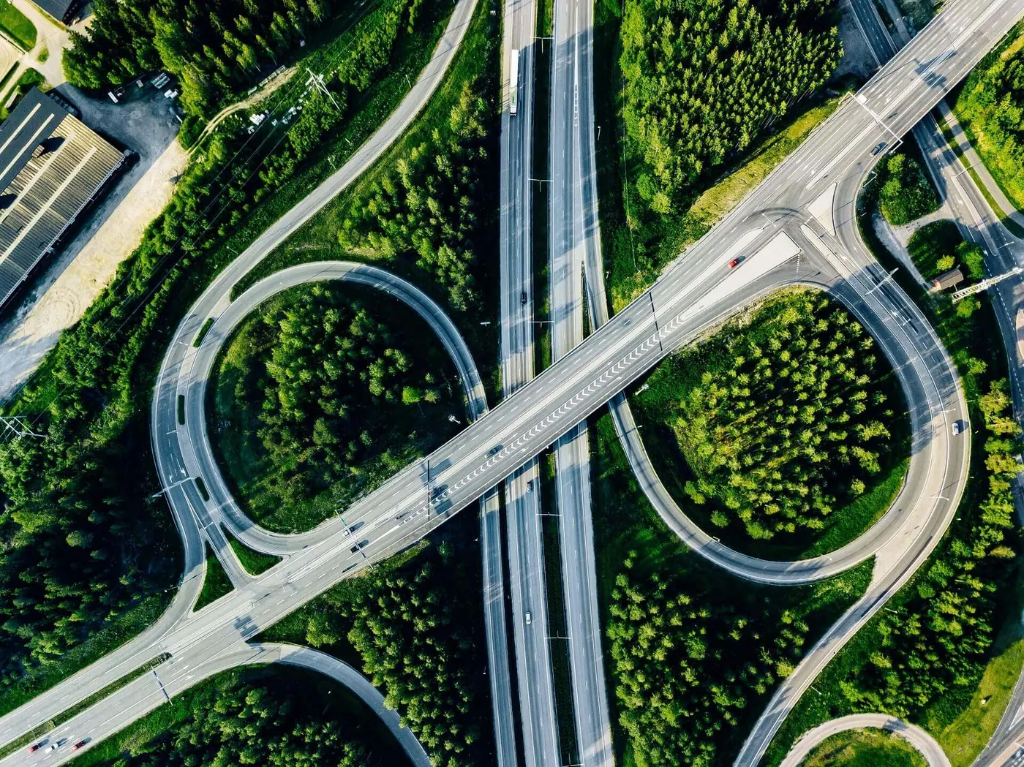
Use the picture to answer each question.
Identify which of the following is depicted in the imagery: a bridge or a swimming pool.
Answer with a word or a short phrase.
bridge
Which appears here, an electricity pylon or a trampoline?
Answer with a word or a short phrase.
electricity pylon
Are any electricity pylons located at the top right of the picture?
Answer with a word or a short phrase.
No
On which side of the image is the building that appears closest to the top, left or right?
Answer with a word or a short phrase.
left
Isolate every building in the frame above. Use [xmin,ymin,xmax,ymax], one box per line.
[0,87,132,321]
[923,265,960,294]
[33,0,85,29]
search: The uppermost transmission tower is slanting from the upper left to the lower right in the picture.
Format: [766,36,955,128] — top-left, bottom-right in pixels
[303,68,341,115]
